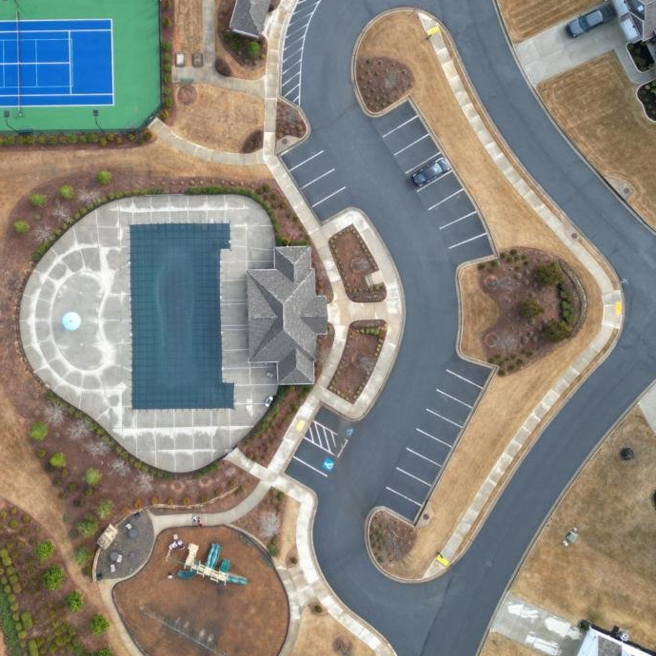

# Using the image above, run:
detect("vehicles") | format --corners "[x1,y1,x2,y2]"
[411,157,450,189]
[561,3,616,41]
